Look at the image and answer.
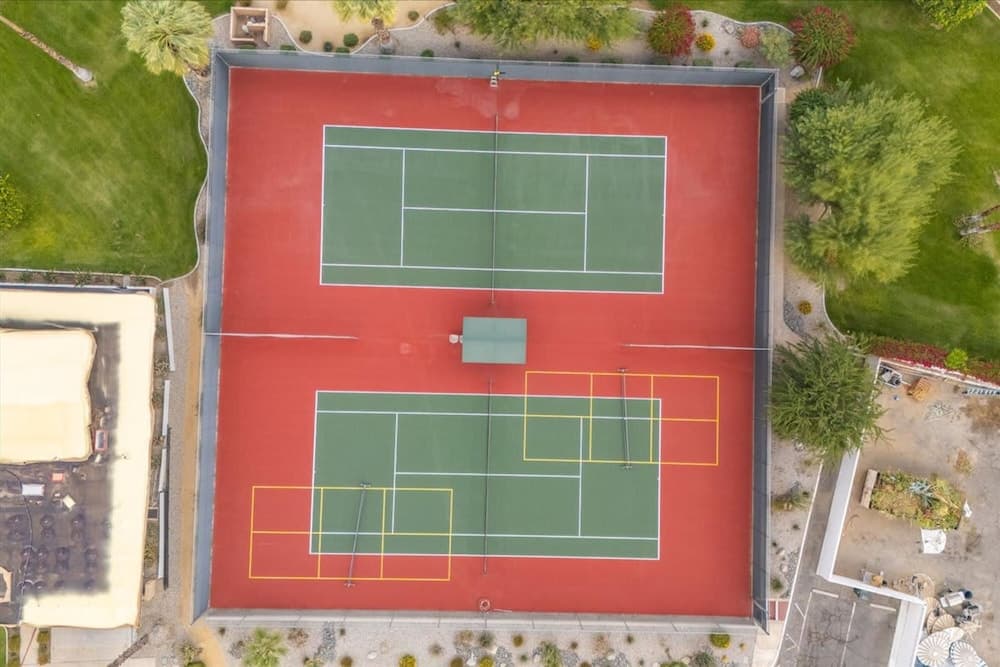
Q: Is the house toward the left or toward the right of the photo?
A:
left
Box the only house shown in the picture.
[0,290,159,632]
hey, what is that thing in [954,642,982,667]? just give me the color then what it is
white umbrella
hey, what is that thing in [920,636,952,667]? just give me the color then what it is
white umbrella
